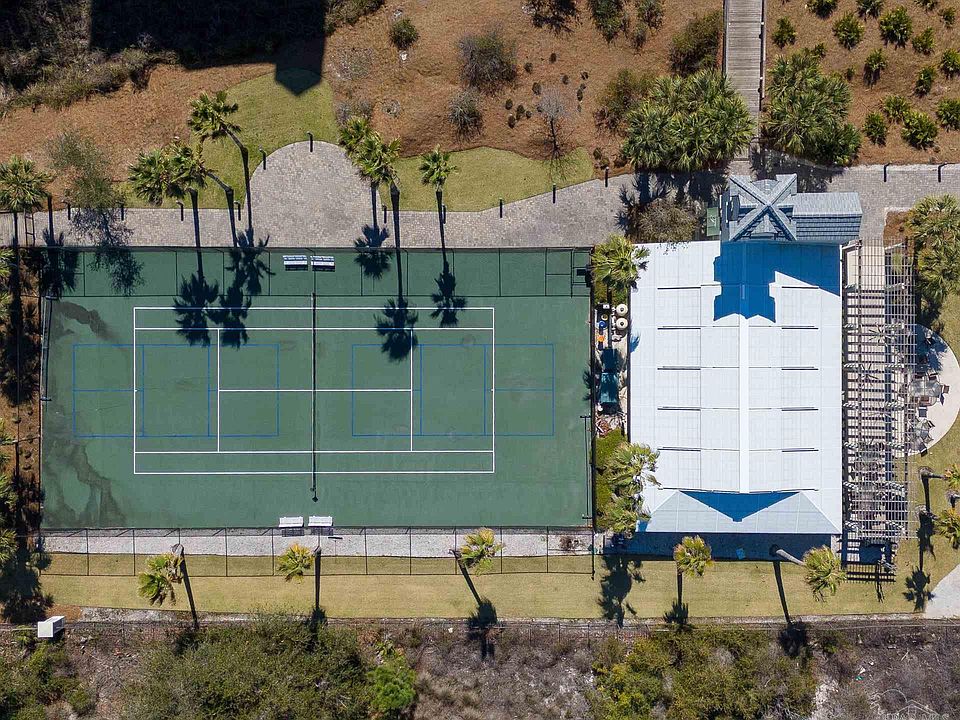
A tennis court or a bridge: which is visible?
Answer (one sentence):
This aerial view contains a tennis court.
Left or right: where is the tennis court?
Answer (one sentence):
It is on the left.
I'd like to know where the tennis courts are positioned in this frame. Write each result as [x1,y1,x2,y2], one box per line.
[42,250,592,529]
